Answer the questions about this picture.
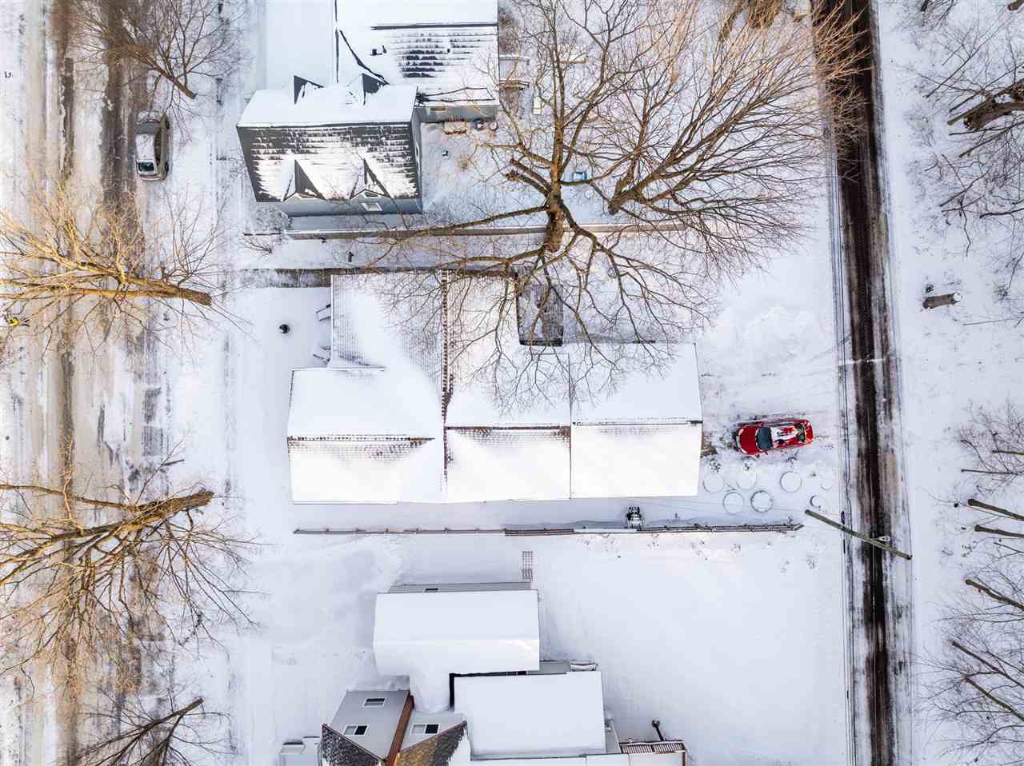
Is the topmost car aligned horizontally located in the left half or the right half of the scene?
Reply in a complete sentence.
The topmost car aligned horizontally appears in the right half of the scene.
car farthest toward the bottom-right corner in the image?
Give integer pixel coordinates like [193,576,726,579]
[732,418,812,458]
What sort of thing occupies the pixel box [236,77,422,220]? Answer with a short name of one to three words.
house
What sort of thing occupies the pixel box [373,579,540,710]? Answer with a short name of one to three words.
house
